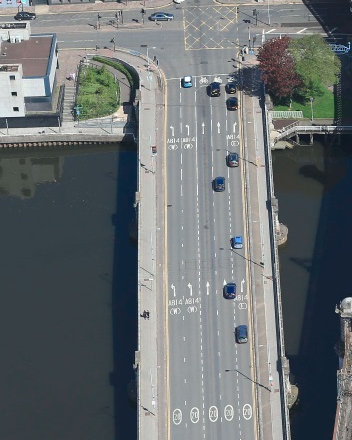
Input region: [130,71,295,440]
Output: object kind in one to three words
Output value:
bridge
